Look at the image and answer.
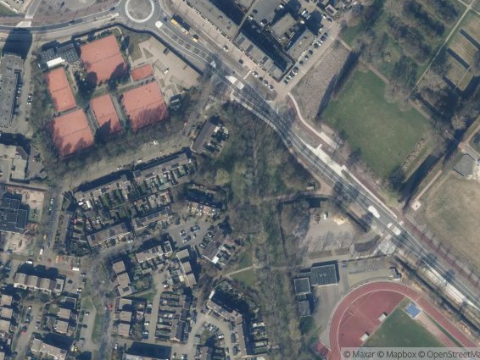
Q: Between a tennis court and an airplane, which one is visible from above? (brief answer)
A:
tennis court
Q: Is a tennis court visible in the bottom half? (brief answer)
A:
No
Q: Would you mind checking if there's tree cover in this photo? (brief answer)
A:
Yes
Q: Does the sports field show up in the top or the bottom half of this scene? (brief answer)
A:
bottom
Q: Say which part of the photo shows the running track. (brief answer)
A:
bottom right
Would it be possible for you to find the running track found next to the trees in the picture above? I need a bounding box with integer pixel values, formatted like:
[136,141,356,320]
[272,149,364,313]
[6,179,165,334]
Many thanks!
[328,281,480,360]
